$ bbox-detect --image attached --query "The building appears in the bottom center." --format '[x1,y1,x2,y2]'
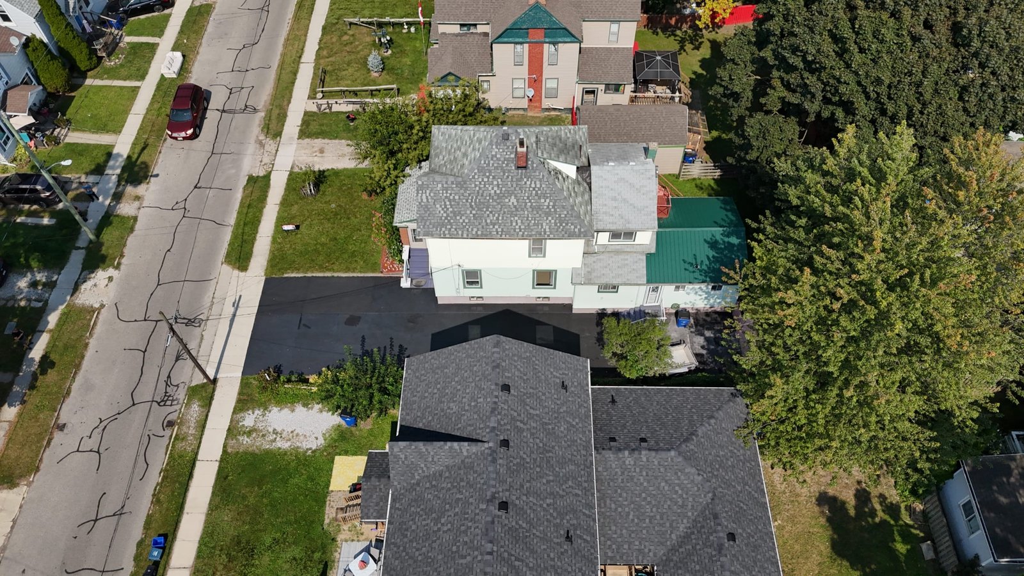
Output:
[359,336,774,576]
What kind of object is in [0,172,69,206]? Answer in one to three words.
car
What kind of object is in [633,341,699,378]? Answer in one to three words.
trailer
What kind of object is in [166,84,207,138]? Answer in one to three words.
car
